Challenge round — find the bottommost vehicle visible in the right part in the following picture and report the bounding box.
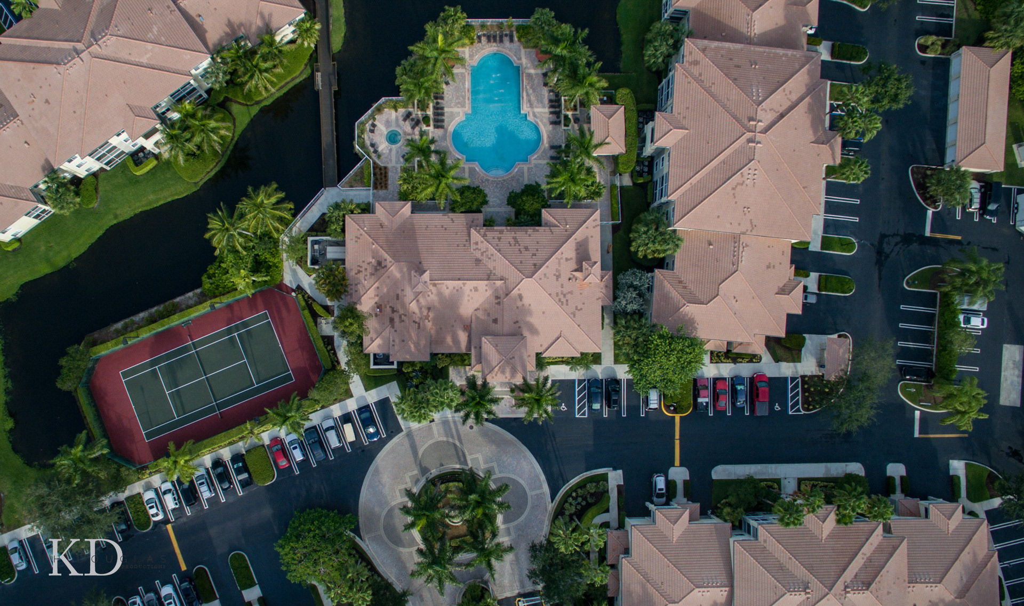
[652,473,667,503]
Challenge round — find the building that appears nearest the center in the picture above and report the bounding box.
[344,200,613,383]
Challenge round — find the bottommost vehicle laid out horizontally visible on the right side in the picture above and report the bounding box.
[903,366,933,381]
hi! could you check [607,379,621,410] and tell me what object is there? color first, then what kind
black car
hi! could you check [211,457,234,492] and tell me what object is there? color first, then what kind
black car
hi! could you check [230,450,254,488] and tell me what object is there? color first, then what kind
black truck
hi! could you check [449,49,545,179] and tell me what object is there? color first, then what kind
blue swimming pool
